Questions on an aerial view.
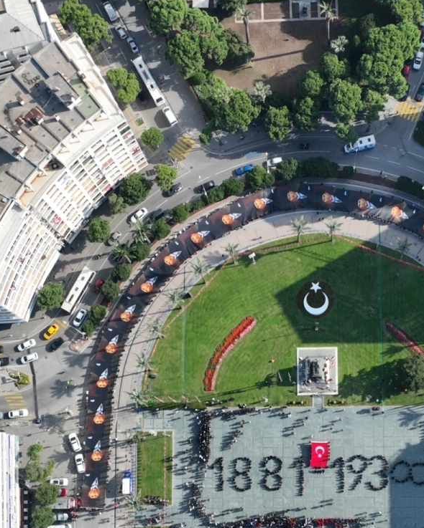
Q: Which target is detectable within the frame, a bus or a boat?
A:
bus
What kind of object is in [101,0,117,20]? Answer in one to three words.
vehicle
